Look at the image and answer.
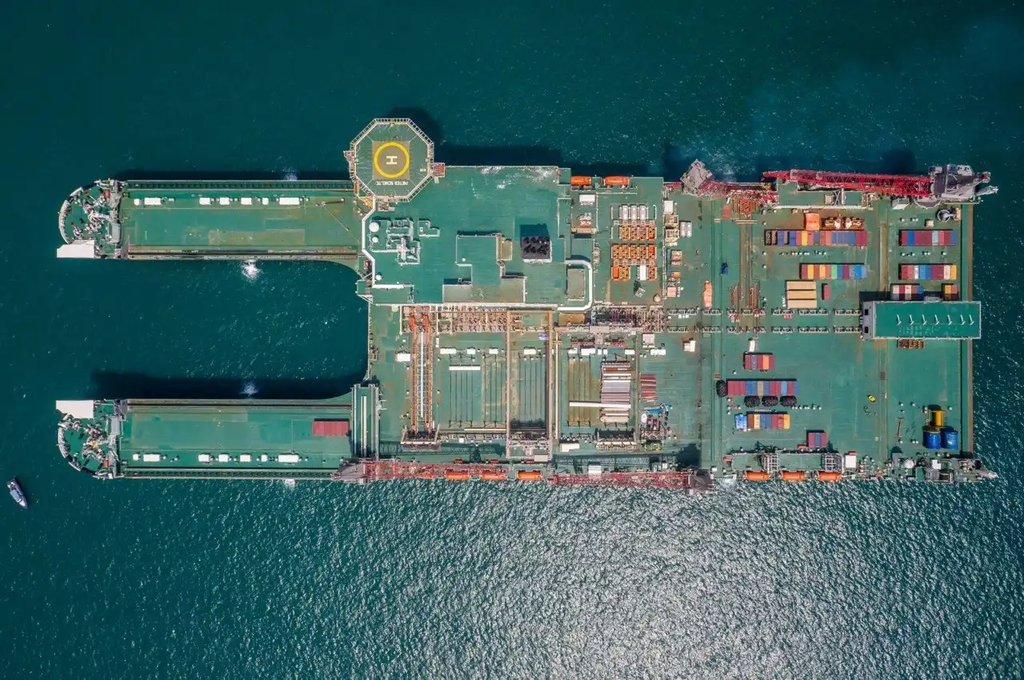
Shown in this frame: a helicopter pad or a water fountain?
helicopter pad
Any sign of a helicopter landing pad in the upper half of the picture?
Yes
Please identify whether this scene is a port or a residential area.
port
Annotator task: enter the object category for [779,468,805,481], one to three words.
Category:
boat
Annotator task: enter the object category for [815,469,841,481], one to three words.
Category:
boat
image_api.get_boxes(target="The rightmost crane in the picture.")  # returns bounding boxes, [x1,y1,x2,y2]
[759,165,1000,209]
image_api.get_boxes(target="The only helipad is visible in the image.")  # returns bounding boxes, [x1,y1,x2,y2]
[344,118,446,212]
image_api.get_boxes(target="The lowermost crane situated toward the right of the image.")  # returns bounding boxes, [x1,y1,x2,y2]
[546,462,713,494]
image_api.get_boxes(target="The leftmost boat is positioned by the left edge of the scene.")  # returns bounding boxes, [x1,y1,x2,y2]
[3,477,27,509]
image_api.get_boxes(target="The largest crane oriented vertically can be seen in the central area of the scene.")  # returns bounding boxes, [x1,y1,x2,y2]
[506,311,562,462]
